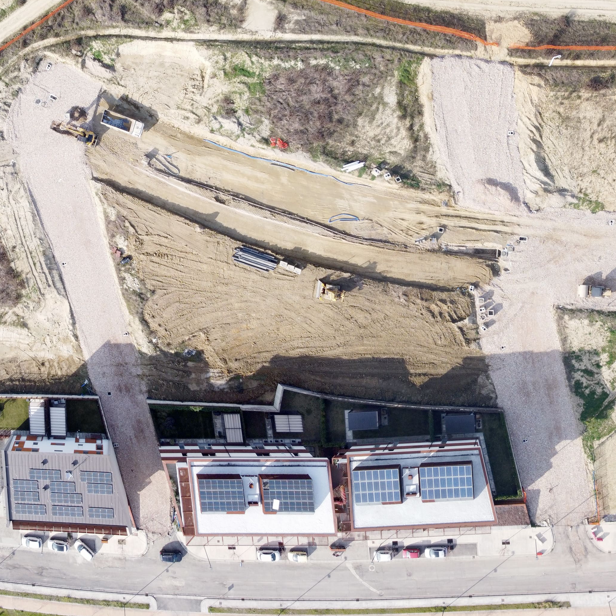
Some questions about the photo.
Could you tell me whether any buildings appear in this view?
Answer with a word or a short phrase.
Yes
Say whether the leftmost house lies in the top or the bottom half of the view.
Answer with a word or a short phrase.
bottom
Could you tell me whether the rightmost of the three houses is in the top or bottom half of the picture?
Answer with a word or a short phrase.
bottom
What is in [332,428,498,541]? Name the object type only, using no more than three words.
house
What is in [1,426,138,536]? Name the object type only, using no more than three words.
house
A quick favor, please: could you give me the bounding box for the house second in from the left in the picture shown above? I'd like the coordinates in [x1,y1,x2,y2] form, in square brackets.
[162,433,338,546]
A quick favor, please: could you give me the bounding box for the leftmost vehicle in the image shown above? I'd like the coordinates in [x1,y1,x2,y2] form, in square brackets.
[22,539,43,551]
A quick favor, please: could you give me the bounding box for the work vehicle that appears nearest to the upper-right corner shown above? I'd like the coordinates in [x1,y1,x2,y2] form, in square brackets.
[579,286,609,300]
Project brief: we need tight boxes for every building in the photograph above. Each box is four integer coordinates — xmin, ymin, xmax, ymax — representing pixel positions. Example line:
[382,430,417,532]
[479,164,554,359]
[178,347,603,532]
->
[162,433,338,546]
[332,428,498,541]
[1,426,138,536]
